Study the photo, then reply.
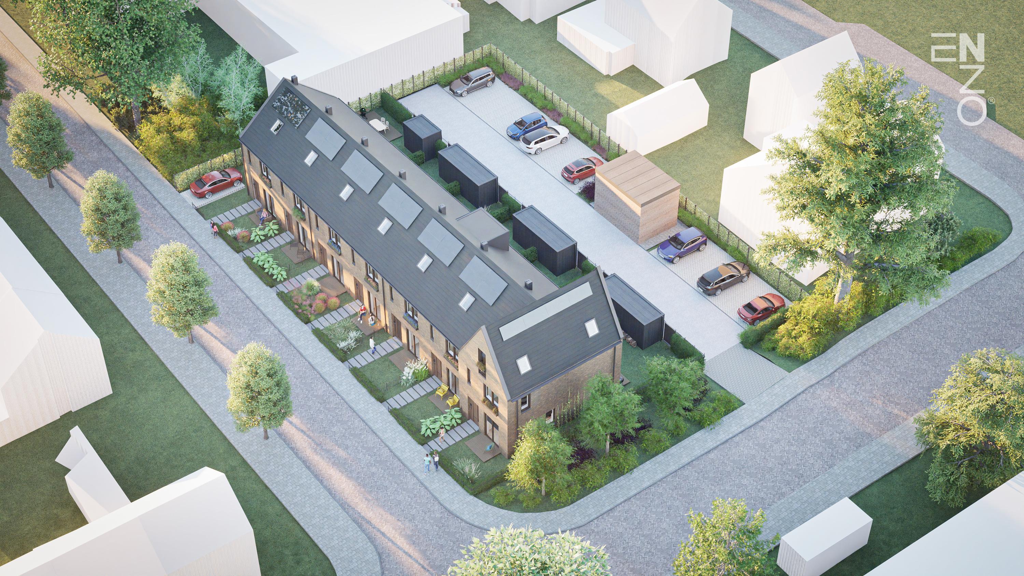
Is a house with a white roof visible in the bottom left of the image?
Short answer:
Yes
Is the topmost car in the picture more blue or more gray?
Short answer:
gray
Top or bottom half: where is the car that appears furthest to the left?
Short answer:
top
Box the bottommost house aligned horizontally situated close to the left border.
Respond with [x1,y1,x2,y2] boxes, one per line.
[0,467,261,576]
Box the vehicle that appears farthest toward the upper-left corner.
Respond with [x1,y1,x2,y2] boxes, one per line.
[187,166,244,198]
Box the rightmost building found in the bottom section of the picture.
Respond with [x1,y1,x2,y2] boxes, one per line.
[864,473,1024,576]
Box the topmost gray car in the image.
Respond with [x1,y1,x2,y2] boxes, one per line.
[448,65,497,98]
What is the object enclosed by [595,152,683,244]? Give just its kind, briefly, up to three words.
shed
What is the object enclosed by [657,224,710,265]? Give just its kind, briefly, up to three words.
car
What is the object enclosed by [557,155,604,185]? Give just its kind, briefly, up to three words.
car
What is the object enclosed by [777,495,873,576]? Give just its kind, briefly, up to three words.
building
